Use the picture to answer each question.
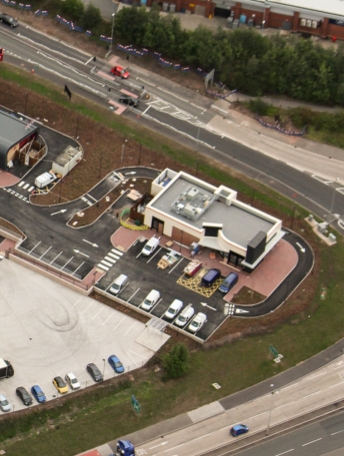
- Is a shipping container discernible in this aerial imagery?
Yes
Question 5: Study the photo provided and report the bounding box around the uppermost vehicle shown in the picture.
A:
[0,12,19,28]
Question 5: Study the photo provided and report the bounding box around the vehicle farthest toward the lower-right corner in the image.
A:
[228,425,251,438]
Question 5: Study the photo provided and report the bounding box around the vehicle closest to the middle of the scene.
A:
[141,235,160,258]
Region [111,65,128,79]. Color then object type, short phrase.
red vehicle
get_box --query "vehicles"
[14,387,34,407]
[142,289,160,312]
[189,311,207,333]
[0,12,19,28]
[51,376,69,395]
[164,298,184,322]
[64,373,81,390]
[228,425,251,438]
[175,305,194,329]
[141,235,160,258]
[0,394,12,413]
[108,355,124,373]
[34,173,58,190]
[0,360,15,378]
[111,65,128,79]
[109,273,129,296]
[71,436,141,456]
[86,363,103,383]
[115,91,142,109]
[29,385,47,404]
